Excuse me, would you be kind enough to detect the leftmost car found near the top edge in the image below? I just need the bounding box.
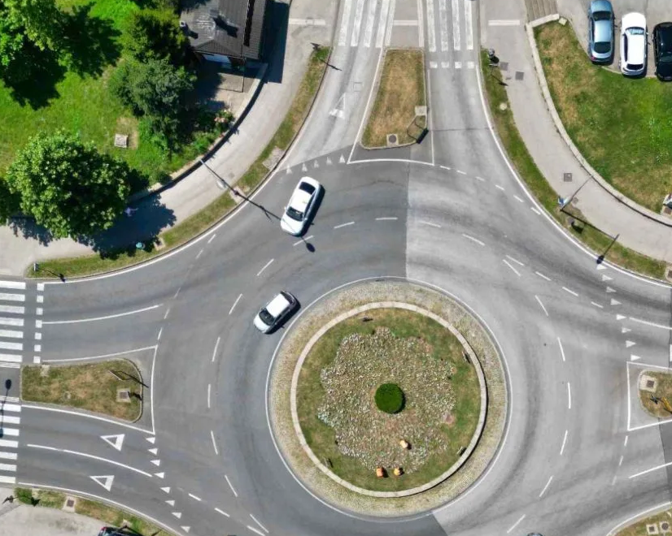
[586,0,616,63]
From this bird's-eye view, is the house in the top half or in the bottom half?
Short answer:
top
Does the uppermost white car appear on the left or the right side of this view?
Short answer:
right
